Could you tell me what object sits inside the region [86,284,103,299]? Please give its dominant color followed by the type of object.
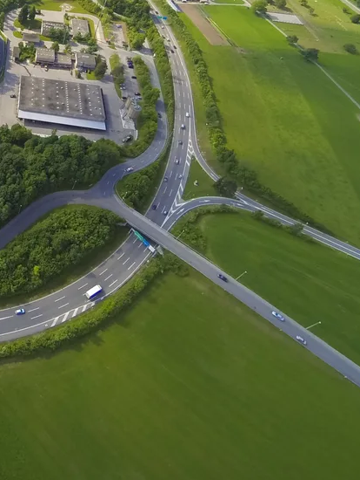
white vehicle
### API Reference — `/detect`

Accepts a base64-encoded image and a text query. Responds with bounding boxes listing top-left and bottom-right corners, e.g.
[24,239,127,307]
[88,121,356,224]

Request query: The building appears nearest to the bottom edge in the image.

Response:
[17,76,105,135]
